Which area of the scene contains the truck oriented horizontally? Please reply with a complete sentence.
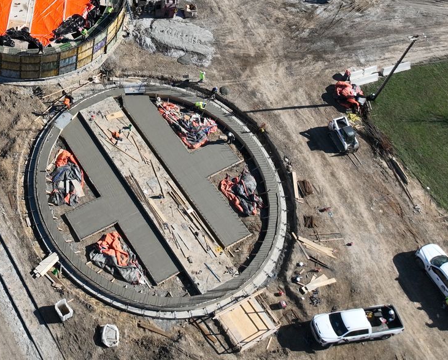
The truck oriented horizontally sits in the bottom right section of the image.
